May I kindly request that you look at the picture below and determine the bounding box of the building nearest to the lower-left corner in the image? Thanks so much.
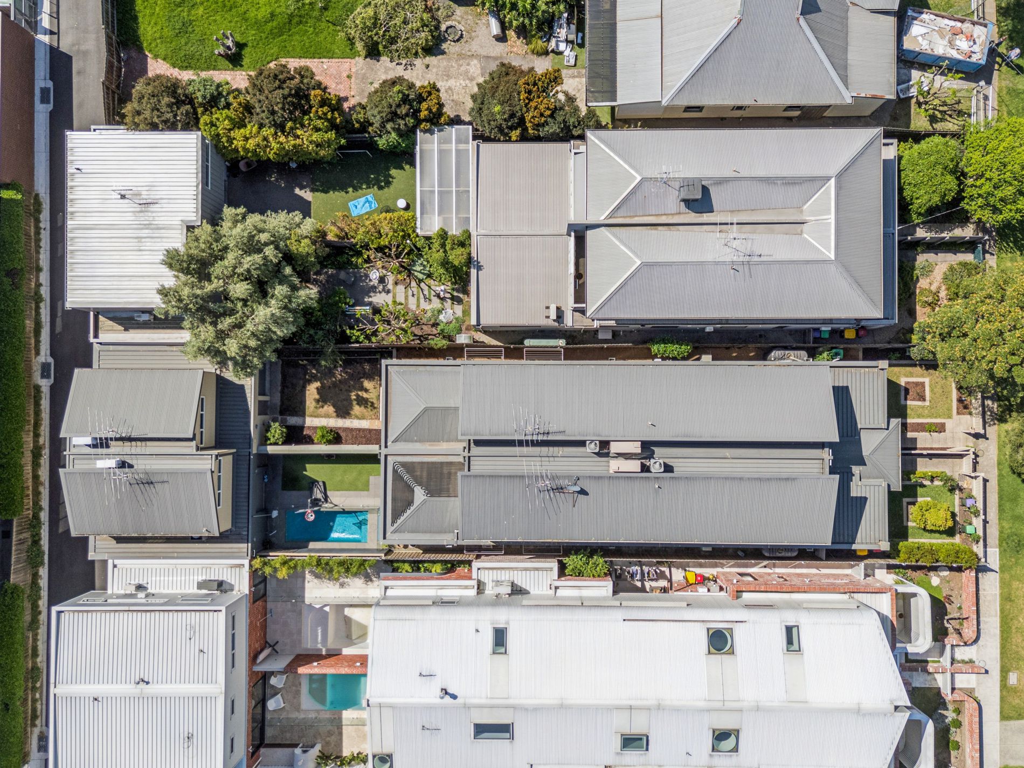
[50,553,267,768]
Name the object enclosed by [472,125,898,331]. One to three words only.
house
